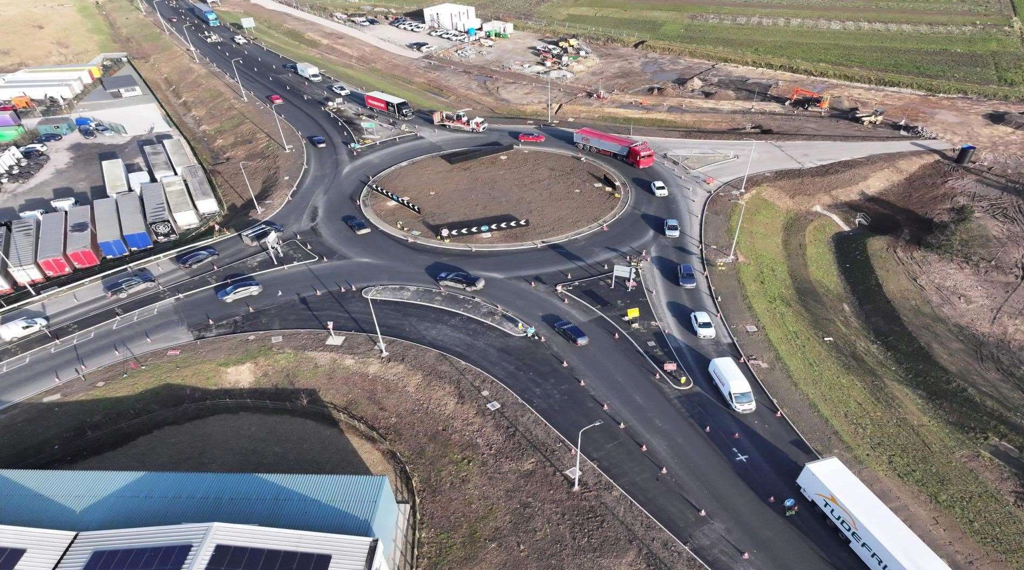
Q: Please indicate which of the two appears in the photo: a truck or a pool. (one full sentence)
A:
I can see a truck in this picture.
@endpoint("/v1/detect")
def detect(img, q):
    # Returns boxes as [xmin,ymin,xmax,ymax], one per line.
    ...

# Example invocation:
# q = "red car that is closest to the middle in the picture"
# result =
[518,130,545,143]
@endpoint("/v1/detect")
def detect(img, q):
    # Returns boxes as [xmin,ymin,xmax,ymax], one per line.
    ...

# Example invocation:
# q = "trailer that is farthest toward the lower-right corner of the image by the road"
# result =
[792,454,950,570]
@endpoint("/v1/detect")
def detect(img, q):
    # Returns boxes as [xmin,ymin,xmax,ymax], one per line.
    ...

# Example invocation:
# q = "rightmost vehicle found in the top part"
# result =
[856,108,884,124]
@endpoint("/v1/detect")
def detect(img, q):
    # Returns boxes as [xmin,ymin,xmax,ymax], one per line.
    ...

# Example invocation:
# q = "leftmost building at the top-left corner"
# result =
[100,72,145,104]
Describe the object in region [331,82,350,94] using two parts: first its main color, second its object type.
white vehicle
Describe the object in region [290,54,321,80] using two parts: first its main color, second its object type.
white vehicle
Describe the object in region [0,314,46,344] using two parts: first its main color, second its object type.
white van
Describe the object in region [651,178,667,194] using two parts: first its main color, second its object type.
white car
